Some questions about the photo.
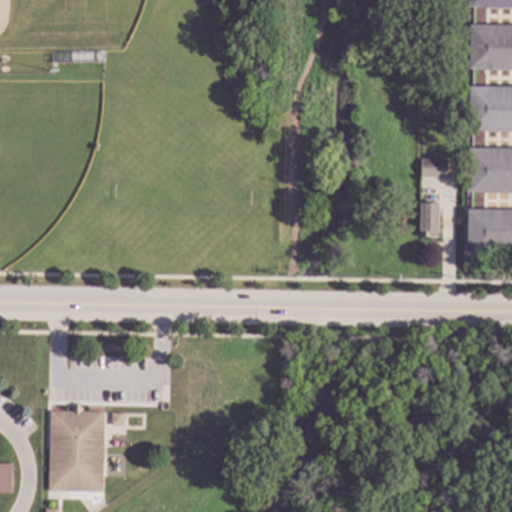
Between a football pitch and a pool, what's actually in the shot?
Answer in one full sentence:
The one in the frame is a football pitch.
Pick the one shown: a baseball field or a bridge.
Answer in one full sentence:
Looking from above, you can make out a baseball field.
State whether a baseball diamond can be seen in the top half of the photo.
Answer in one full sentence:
Yes, a baseball diamond appears in the top half of the photo.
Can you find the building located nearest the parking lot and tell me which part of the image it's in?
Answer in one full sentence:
Look in the bottom left portion of the view to spot the building located nearest the parking lot.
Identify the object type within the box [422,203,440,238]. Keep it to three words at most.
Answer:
shed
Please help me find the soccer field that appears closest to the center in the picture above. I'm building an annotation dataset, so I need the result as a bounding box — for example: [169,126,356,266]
[117,158,251,236]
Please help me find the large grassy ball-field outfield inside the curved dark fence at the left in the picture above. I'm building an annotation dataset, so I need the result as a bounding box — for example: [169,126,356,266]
[0,80,105,271]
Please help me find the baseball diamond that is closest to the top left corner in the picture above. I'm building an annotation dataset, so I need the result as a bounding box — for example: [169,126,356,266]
[0,0,148,52]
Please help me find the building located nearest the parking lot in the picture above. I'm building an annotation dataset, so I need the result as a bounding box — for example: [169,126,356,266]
[49,404,104,491]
